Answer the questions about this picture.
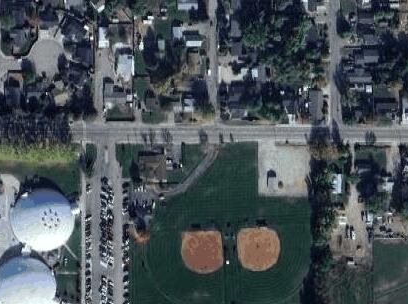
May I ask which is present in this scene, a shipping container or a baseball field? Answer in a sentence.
This aerial view contains a baseball field.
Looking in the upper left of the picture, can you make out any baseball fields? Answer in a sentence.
No, I can find no baseball field in the upper left of the picture.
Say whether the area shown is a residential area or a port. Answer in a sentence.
It's a residential area.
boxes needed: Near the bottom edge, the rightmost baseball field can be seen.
[231,197,311,304]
